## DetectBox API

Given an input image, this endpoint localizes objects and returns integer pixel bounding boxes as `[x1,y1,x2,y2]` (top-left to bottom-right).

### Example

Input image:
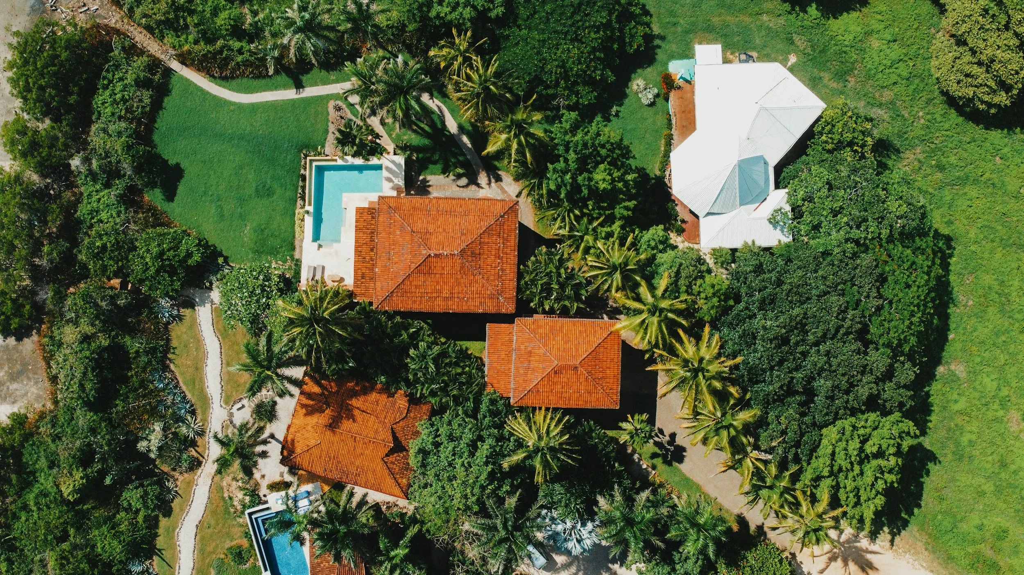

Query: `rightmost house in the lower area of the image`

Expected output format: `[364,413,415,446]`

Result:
[485,314,622,410]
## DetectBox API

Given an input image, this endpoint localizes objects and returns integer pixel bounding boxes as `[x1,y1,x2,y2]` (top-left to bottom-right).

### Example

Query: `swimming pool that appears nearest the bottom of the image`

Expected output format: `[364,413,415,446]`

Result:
[245,481,324,575]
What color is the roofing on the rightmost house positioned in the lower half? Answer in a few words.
orange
